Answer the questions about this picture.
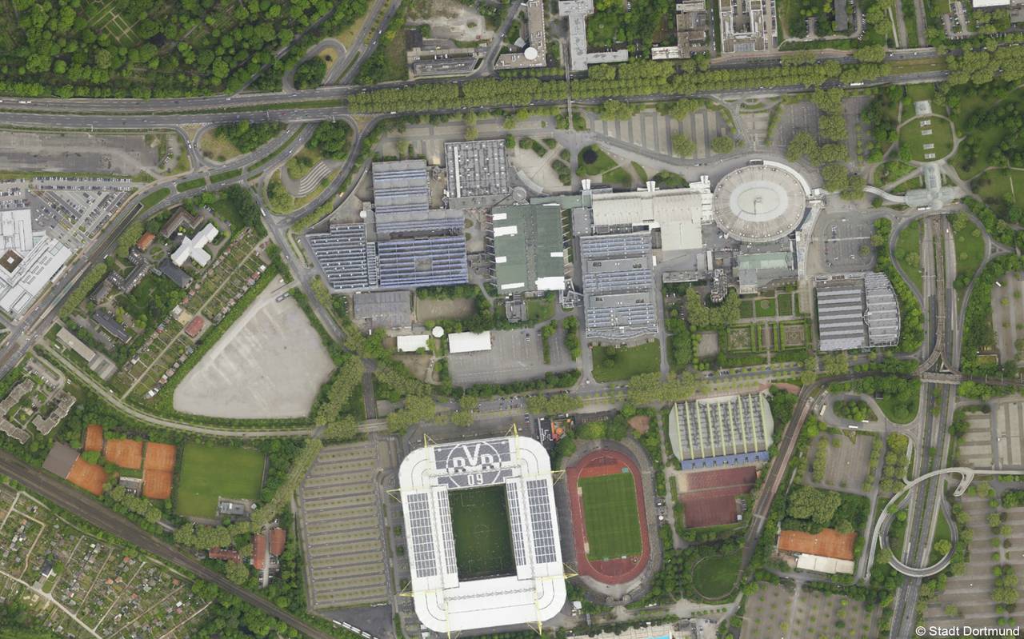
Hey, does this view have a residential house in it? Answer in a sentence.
Yes, I can see a residential house in this picture.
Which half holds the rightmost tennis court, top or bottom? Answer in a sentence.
It is in the bottom half that the rightmost tennis court appears.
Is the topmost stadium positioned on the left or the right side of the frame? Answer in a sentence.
The topmost stadium sits on the right side.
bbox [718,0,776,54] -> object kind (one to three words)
building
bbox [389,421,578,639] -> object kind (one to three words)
stadium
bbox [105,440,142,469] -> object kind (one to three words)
tennis court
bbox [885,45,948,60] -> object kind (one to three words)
overpass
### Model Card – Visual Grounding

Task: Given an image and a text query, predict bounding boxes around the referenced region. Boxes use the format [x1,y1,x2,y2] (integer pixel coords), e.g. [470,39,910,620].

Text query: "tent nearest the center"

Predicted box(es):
[448,331,491,353]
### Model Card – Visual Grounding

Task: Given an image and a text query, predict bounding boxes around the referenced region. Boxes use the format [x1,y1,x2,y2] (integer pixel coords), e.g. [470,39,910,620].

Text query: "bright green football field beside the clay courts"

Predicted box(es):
[175,444,265,518]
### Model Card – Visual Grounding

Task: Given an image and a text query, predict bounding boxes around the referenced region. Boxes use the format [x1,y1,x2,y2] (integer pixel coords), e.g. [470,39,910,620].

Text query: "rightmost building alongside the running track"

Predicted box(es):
[668,392,772,469]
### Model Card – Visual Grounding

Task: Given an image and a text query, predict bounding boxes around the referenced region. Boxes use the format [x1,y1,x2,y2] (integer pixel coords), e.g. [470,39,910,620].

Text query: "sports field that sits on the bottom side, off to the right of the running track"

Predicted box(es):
[691,553,740,600]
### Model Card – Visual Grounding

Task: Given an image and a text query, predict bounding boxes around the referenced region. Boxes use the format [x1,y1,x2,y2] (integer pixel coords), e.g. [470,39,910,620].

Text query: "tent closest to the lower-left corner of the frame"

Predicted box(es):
[397,335,429,352]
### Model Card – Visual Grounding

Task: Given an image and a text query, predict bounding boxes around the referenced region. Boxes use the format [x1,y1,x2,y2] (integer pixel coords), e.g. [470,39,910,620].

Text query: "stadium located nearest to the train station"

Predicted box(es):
[713,164,806,242]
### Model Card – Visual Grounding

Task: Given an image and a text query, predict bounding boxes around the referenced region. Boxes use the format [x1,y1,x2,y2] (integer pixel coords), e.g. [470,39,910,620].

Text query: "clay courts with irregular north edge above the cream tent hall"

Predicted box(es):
[778,528,856,560]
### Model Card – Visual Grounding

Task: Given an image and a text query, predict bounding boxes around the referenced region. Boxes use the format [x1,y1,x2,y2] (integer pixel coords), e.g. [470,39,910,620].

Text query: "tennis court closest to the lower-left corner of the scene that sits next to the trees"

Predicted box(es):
[66,456,107,494]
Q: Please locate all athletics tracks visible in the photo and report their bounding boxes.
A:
[555,431,665,603]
